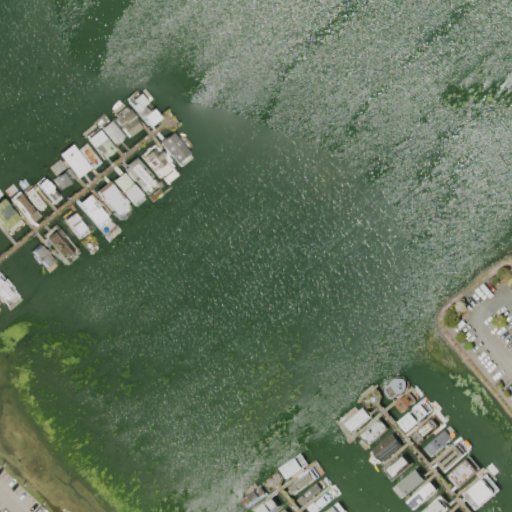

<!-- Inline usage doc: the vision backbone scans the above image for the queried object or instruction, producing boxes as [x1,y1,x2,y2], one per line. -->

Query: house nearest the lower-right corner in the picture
[462,467,502,512]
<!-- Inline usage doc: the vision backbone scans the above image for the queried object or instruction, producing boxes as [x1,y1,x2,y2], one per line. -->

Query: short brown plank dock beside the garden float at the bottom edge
[258,468,332,512]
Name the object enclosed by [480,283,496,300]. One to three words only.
vehicle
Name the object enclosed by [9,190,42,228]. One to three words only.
house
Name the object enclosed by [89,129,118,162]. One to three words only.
house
